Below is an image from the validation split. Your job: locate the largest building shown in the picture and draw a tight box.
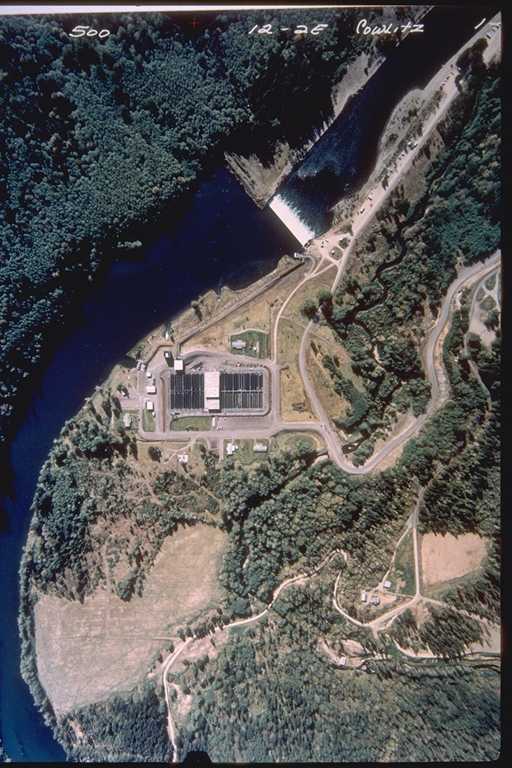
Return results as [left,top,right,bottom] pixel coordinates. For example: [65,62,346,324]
[205,370,220,410]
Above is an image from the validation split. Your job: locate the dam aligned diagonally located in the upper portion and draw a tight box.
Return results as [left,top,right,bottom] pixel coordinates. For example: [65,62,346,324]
[265,194,314,256]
